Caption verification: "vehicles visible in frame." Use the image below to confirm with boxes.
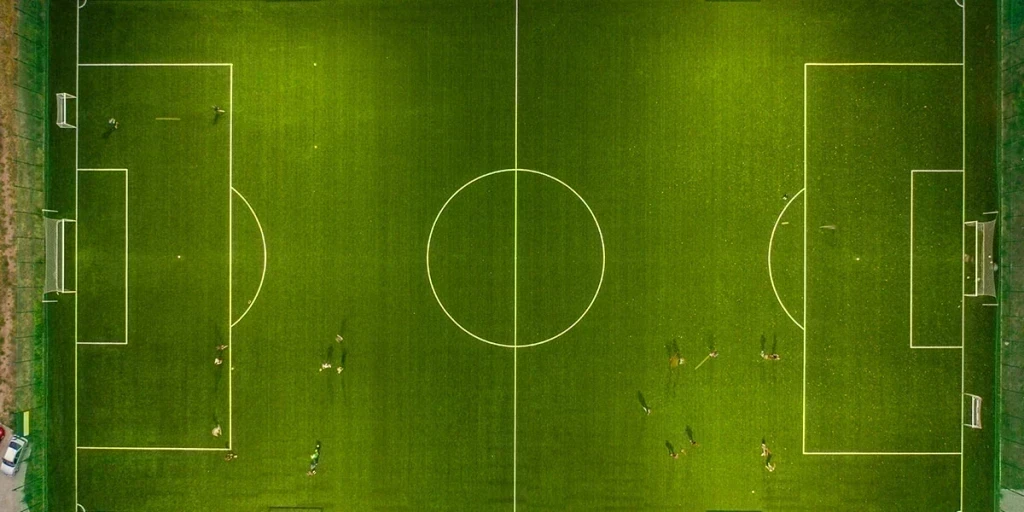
[0,423,7,445]
[0,434,29,475]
